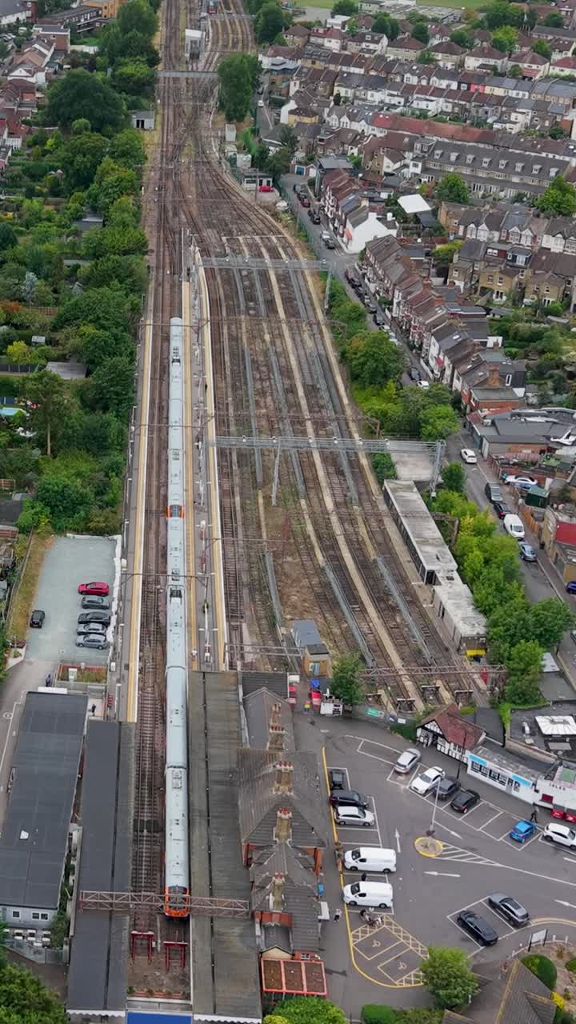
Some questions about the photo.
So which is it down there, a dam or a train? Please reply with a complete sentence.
Of the two, only a train appears.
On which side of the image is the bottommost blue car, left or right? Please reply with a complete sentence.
The bottommost blue car is on the right side of the image.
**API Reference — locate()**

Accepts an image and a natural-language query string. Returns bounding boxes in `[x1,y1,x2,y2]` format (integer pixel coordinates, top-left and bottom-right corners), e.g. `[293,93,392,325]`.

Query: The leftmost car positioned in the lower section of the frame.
[29,606,46,625]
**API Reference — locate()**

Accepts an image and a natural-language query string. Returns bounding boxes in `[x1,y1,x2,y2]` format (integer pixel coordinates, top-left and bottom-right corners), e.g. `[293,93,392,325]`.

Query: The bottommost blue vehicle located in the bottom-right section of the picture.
[509,815,542,841]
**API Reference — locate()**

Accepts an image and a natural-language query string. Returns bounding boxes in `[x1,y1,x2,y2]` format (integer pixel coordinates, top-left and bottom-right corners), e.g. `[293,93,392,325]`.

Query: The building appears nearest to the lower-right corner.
[488,961,560,1024]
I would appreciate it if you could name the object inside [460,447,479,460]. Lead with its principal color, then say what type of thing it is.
white vehicle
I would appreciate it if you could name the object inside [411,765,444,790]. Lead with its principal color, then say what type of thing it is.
white car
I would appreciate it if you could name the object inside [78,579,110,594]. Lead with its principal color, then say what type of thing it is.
red car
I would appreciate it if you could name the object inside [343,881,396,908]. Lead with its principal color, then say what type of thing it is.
white vehicle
